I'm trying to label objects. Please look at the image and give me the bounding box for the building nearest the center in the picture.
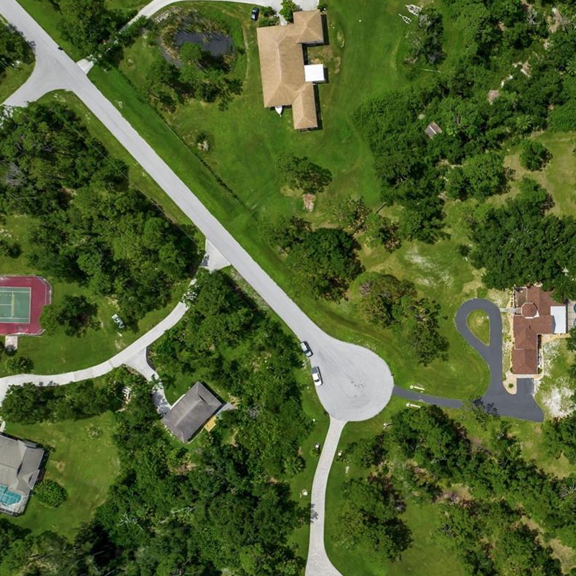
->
[162,381,224,442]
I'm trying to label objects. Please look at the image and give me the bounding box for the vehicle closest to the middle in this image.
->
[300,341,313,357]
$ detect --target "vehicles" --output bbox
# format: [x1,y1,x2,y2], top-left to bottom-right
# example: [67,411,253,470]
[312,366,323,386]
[252,7,260,21]
[112,314,124,326]
[300,341,313,357]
